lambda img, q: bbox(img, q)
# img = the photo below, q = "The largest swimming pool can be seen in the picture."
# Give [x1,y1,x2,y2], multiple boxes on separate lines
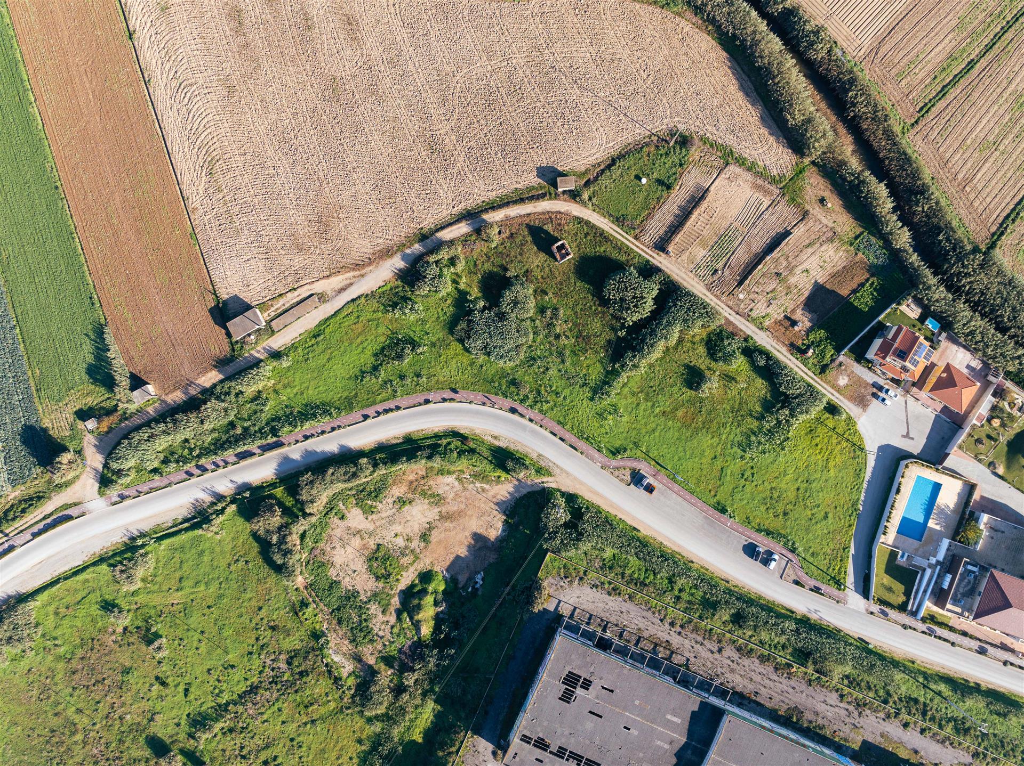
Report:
[896,473,945,545]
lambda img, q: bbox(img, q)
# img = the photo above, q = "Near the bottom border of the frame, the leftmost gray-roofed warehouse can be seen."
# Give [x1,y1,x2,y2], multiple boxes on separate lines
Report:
[496,611,732,766]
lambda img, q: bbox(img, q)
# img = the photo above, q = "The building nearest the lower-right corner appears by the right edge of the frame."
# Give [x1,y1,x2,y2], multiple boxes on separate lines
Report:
[934,555,1024,639]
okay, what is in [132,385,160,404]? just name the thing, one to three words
shed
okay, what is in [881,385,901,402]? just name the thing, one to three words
vehicle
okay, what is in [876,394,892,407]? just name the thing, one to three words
vehicle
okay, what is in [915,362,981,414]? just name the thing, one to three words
house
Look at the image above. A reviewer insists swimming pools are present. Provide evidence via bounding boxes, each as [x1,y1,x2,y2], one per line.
[925,316,943,332]
[896,473,945,545]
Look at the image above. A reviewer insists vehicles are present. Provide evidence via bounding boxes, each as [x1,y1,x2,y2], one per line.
[767,553,779,570]
[876,394,892,407]
[637,476,649,490]
[752,546,763,563]
[881,385,901,402]
[646,484,656,495]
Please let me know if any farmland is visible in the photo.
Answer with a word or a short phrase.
Yes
